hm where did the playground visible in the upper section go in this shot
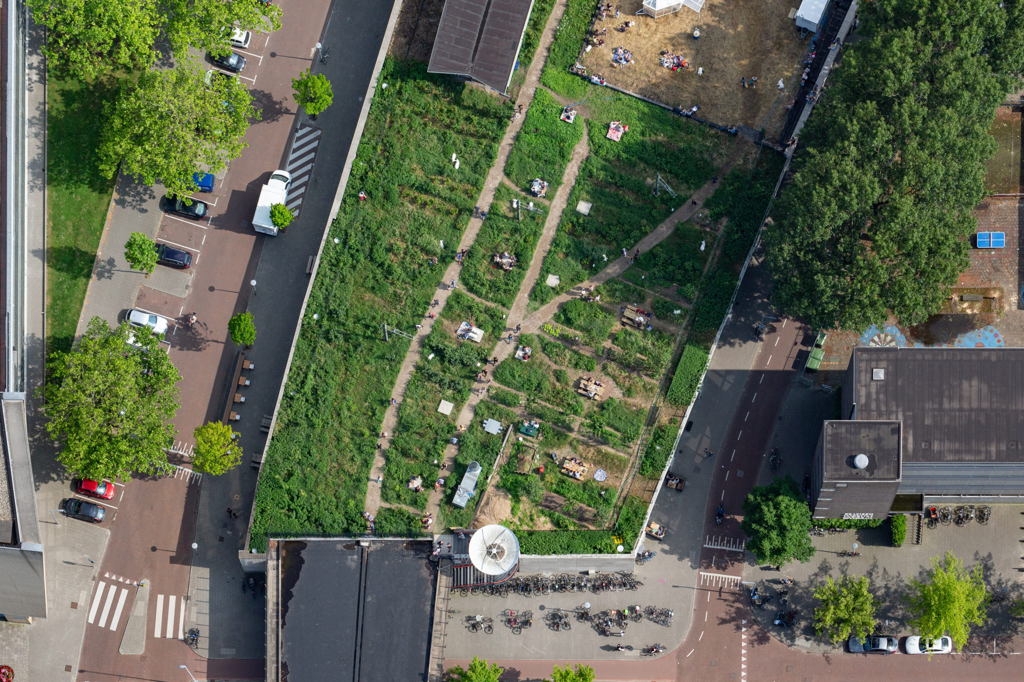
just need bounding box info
[801,0,1024,386]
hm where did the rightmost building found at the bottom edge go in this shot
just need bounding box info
[267,538,454,682]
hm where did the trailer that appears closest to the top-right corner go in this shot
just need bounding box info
[796,0,829,38]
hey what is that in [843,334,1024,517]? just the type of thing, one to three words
building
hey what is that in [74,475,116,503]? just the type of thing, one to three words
car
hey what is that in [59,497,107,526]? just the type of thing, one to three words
car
